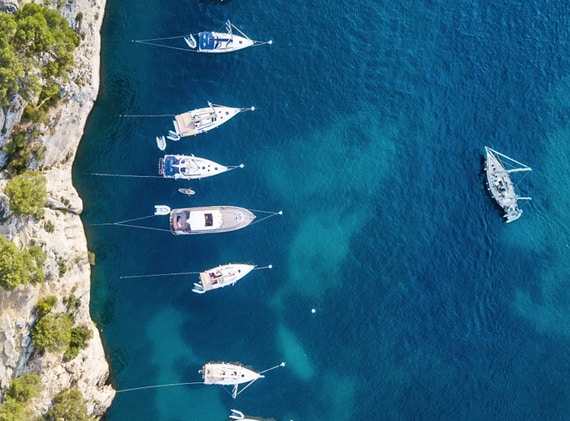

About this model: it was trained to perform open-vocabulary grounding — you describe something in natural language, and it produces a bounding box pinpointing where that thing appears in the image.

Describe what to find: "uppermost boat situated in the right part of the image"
[484,146,530,214]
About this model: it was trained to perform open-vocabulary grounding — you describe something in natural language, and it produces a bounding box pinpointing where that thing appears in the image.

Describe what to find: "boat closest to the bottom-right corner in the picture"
[503,209,522,223]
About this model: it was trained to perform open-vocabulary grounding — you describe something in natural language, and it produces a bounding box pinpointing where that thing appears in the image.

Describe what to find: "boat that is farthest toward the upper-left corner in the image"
[184,33,197,49]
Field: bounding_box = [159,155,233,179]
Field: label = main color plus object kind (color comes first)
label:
white boat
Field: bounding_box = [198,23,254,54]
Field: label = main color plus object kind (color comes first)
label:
white boat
